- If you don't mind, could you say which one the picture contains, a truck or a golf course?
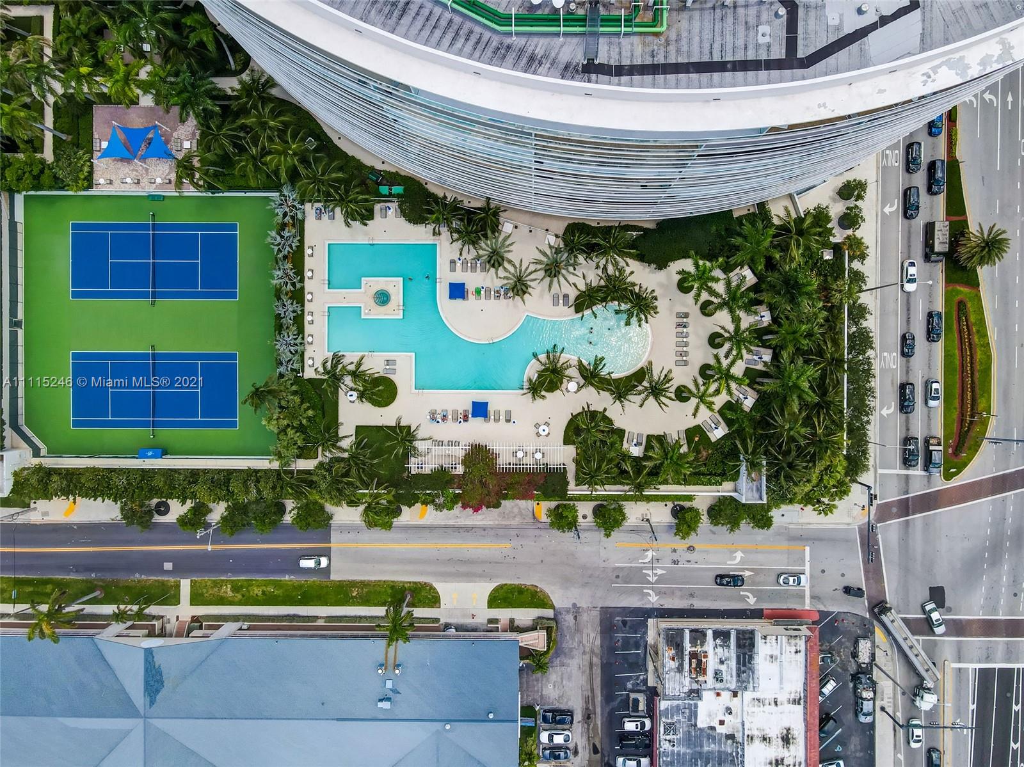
truck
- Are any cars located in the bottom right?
Yes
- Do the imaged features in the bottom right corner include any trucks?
Yes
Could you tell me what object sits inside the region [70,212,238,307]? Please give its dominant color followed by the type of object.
blue tennis court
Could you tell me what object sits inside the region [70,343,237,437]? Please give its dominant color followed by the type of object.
blue tennis court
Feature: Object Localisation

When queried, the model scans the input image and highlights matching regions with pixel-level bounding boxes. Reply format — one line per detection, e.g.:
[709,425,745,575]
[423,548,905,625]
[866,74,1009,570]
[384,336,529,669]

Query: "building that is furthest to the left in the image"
[0,449,30,486]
